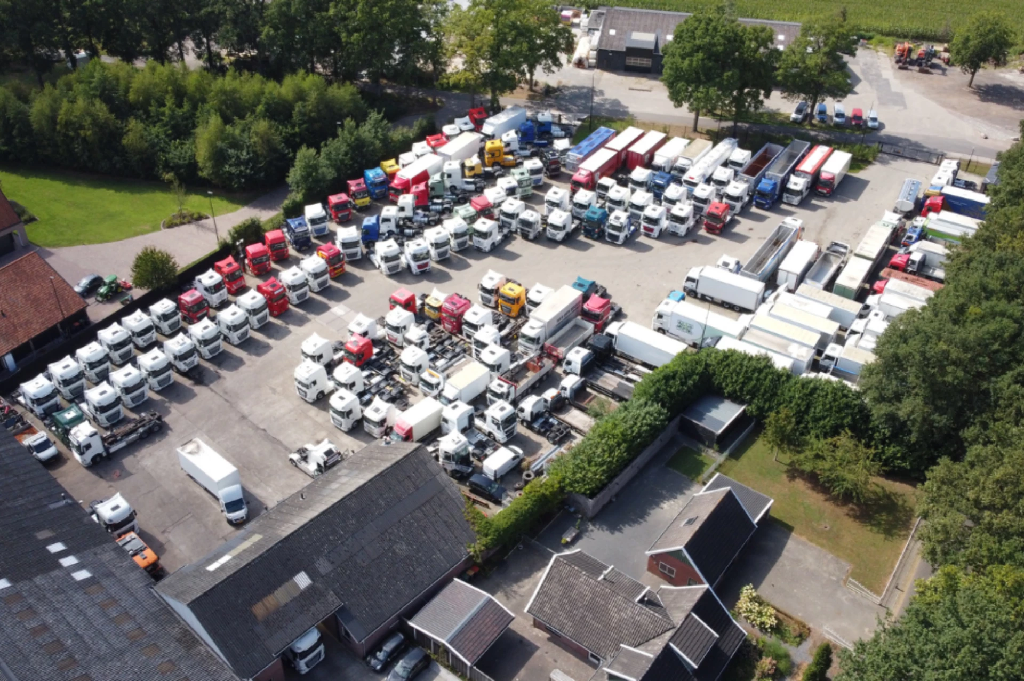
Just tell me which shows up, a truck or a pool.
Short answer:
truck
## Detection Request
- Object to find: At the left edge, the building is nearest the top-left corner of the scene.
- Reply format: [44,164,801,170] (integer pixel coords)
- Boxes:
[0,190,28,248]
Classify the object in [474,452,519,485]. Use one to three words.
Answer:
van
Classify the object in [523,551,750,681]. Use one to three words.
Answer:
house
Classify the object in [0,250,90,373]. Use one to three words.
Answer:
barn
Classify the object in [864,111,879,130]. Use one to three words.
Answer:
vehicle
